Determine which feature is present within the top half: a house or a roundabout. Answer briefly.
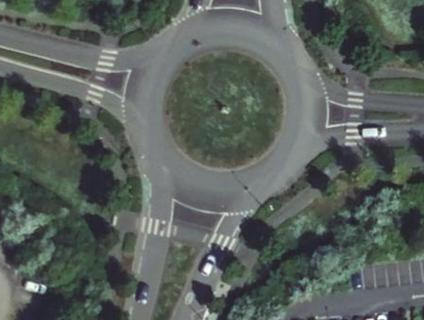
roundabout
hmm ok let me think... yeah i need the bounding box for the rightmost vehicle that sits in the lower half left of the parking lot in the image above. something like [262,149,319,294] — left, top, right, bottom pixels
[200,254,216,276]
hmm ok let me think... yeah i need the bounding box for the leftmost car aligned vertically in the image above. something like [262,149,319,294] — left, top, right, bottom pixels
[137,282,149,304]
